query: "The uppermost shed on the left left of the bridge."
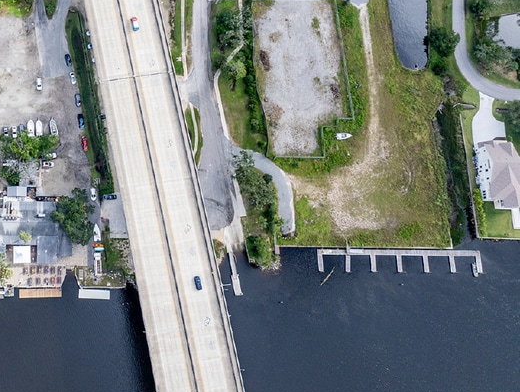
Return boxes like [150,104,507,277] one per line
[20,160,38,186]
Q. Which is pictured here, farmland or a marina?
marina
